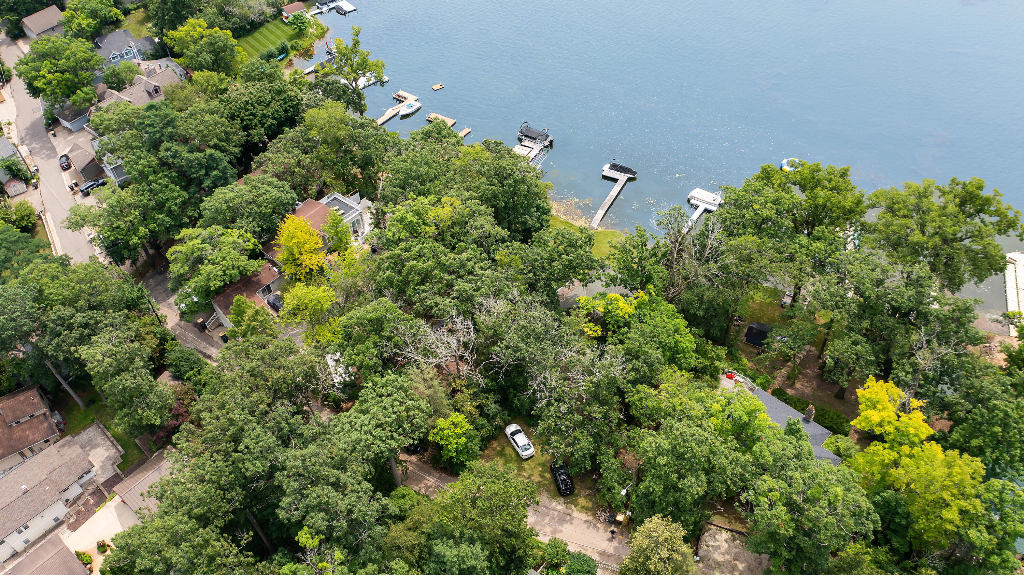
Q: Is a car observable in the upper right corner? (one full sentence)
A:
No, I see no car in the upper right corner.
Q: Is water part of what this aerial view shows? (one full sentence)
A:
Yes, the picture does contain water.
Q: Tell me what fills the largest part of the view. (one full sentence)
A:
The bulk of the photo consists of trees.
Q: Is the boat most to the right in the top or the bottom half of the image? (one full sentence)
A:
Seen from above, the boat most to the right lies in the top half of the view.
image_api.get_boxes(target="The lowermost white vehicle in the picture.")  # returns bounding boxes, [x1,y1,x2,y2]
[505,423,536,463]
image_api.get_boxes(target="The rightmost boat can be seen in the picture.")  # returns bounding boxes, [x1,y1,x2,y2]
[688,186,723,206]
